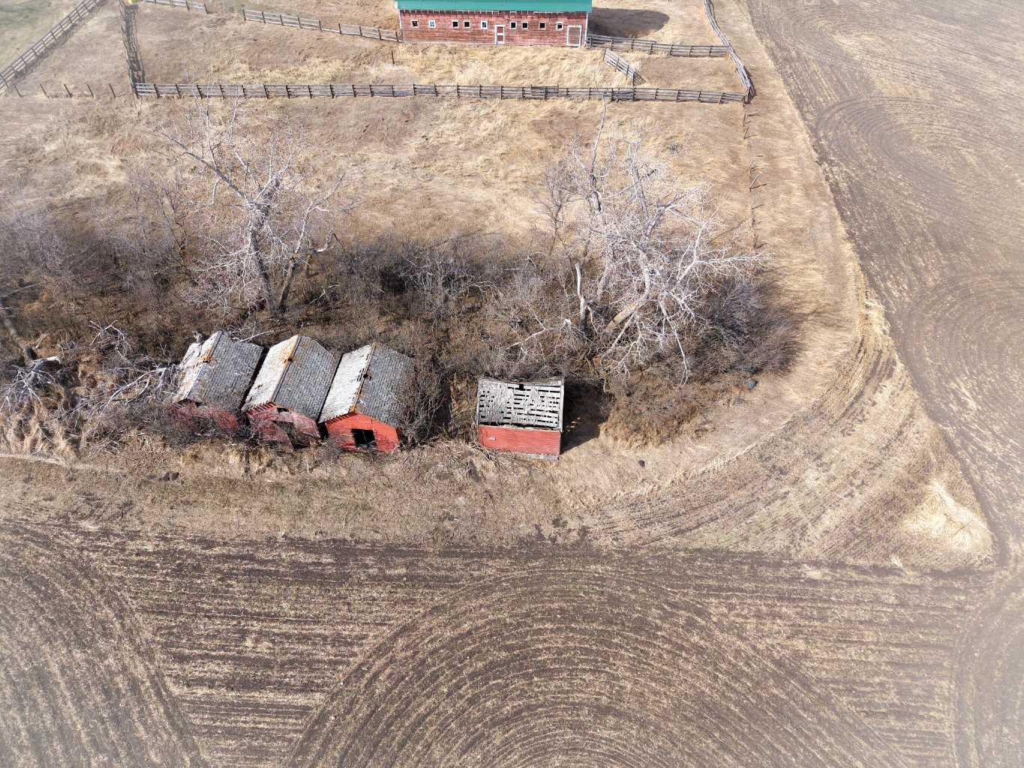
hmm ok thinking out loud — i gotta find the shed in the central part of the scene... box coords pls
[474,369,564,455]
